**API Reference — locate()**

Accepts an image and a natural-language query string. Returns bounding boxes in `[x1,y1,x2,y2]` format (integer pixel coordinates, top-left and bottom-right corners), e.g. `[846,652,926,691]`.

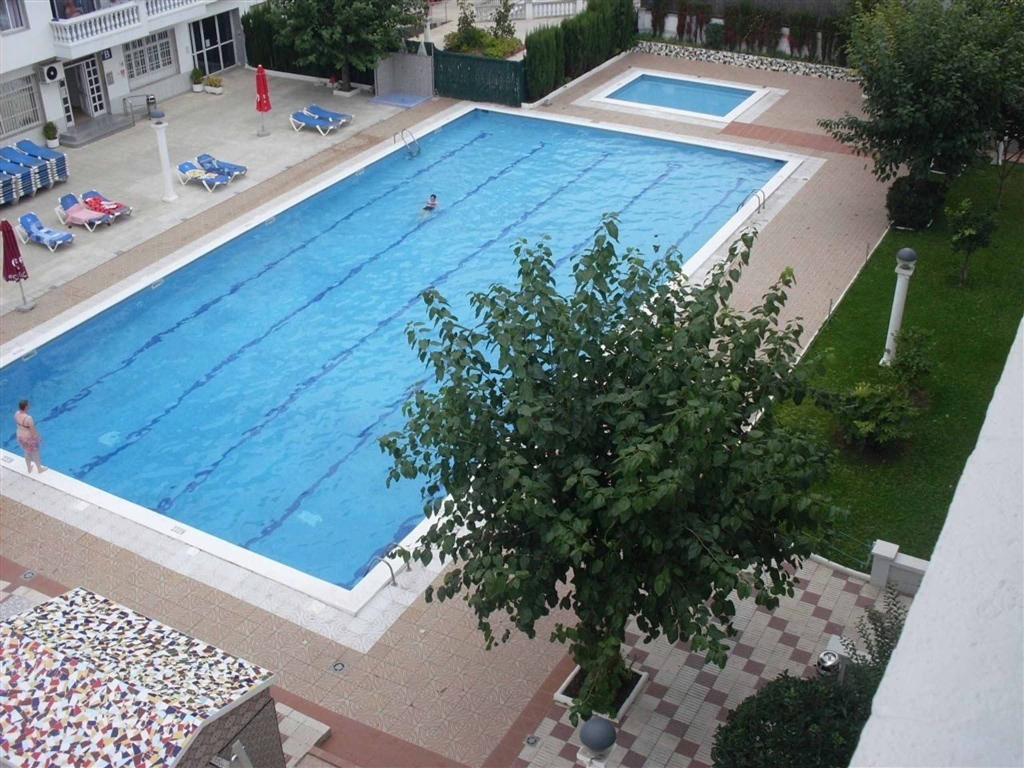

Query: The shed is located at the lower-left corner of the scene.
[0,585,284,768]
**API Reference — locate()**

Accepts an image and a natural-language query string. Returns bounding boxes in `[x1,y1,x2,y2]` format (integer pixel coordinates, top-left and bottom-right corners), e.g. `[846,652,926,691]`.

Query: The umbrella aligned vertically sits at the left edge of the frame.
[0,218,41,313]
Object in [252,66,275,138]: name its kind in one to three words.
umbrella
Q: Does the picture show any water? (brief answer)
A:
Yes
